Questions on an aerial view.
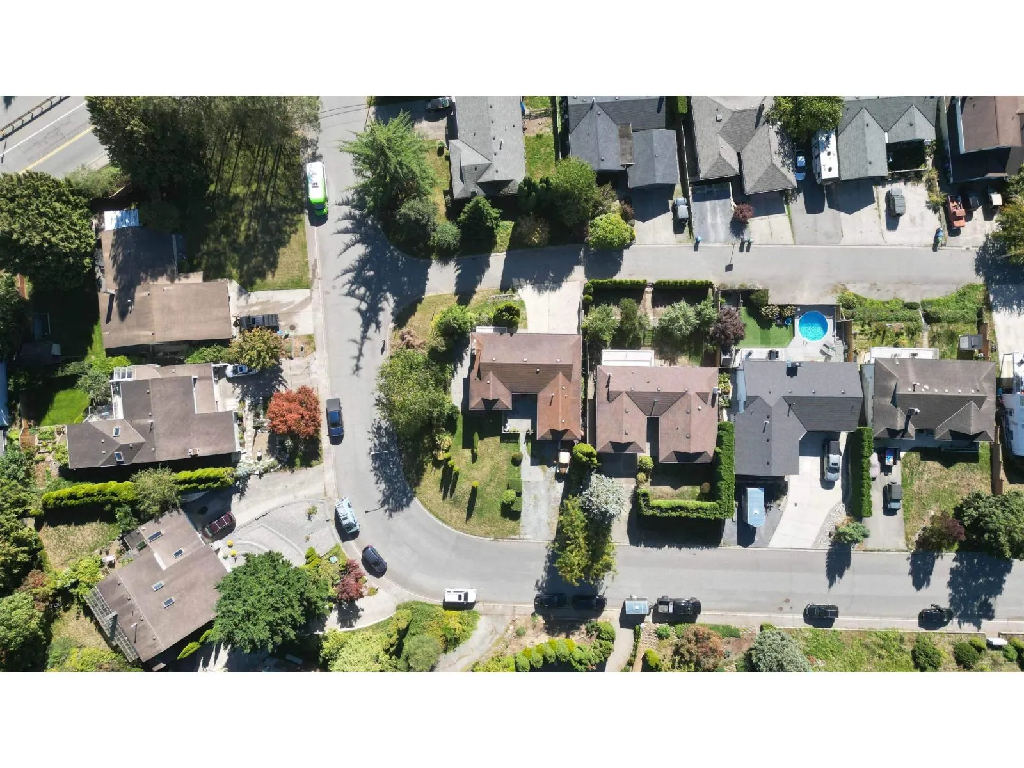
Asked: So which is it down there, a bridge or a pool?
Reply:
pool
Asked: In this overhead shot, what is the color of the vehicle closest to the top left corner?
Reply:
white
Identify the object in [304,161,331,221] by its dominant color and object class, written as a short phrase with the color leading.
white vehicle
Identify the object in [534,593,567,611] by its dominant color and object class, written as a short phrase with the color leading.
black car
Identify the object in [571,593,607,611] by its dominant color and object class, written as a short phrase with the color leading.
black car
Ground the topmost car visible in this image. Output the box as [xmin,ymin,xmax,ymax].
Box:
[421,93,454,114]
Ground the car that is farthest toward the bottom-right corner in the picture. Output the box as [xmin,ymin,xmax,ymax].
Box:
[915,600,951,624]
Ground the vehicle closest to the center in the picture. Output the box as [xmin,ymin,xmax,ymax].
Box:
[556,446,570,476]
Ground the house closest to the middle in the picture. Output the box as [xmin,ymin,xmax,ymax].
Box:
[469,327,583,441]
